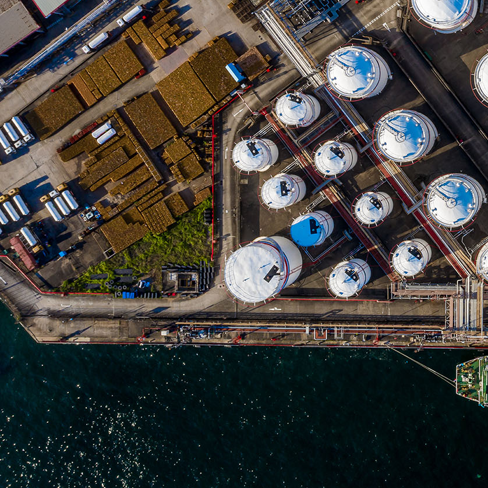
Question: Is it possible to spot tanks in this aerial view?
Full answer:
Yes, the frame does contain a tank.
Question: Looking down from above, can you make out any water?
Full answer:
Yes, water can be seen from above here.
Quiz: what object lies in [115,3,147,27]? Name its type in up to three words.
truck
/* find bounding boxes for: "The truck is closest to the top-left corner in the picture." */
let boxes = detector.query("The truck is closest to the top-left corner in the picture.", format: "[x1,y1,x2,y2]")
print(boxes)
[81,31,114,55]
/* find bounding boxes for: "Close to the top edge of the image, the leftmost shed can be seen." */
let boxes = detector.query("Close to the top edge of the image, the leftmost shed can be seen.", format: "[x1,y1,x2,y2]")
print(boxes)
[0,0,53,66]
